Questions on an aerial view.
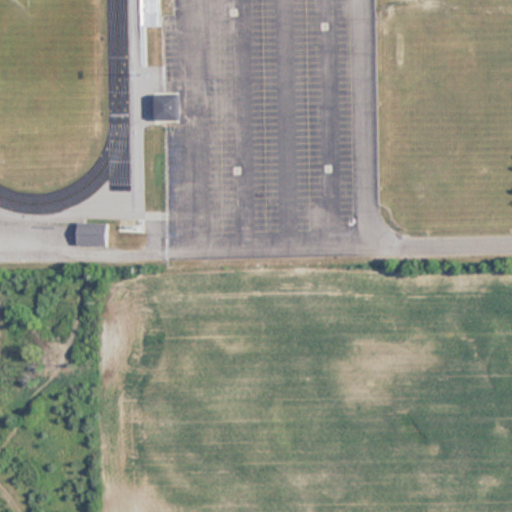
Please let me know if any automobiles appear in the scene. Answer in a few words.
No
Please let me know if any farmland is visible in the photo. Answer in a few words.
Yes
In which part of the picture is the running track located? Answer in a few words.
top left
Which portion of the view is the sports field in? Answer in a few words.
top left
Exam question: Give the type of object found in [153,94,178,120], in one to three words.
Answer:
building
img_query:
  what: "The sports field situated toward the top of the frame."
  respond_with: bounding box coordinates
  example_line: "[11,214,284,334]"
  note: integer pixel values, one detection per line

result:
[0,0,109,194]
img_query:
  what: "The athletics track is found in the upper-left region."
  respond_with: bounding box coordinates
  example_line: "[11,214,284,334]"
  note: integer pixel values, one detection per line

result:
[0,0,130,214]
